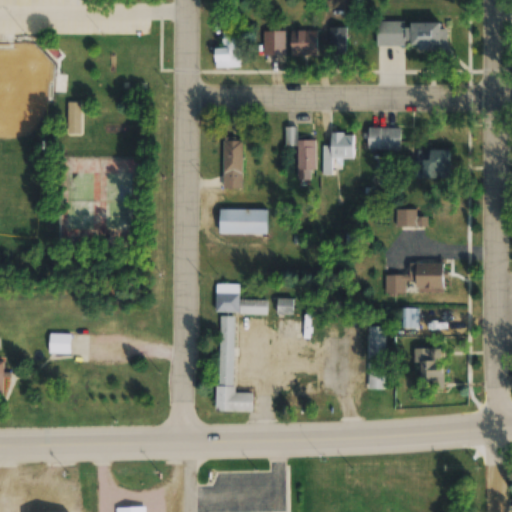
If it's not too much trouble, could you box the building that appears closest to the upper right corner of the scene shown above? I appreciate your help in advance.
[378,22,450,50]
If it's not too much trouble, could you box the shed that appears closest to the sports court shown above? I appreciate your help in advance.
[68,102,84,136]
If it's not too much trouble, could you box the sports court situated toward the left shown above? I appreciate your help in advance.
[64,156,138,239]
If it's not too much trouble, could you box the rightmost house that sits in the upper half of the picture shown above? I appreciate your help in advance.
[424,150,452,179]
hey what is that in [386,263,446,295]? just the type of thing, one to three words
house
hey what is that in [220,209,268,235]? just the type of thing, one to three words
building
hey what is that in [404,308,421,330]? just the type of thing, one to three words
shed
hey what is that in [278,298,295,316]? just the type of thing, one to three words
shed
